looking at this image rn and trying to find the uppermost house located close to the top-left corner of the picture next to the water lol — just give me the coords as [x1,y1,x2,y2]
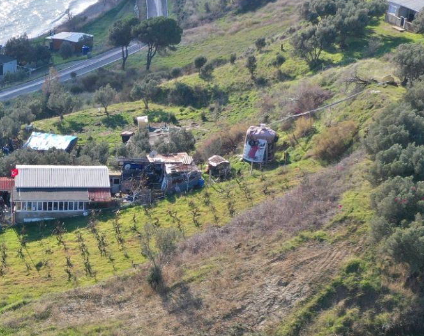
[54,30,97,55]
